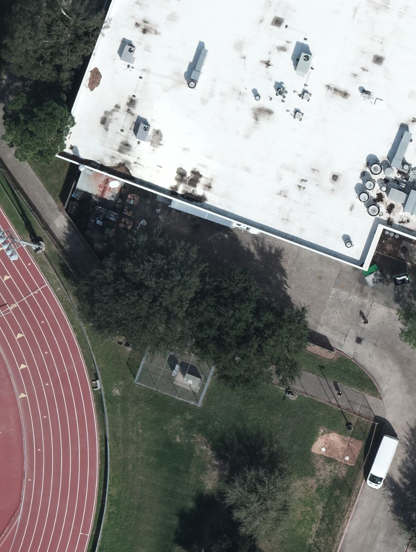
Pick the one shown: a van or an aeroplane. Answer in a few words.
van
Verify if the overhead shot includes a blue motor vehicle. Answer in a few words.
No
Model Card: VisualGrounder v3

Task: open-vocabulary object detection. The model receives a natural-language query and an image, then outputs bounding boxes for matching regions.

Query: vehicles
[233,223,261,240]
[368,436,398,490]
